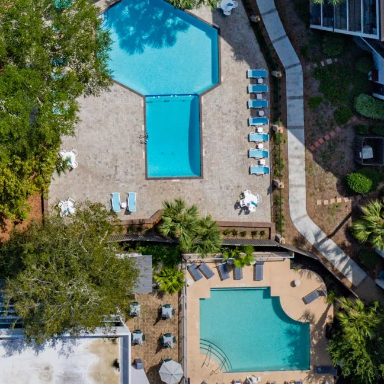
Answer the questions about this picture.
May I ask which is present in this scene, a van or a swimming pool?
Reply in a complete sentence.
Of the two, only a swimming pool appears.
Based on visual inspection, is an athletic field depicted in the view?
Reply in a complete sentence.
No, there is no athletic field in the image.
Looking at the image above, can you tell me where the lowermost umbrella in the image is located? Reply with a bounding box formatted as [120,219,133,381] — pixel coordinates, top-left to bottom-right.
[158,357,183,382]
